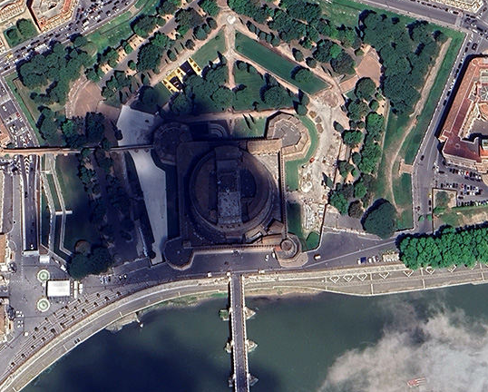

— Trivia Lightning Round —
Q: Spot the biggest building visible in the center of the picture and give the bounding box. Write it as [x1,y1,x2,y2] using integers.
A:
[155,112,314,273]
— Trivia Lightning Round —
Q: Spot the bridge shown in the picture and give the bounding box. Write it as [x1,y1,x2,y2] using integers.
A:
[224,274,255,392]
